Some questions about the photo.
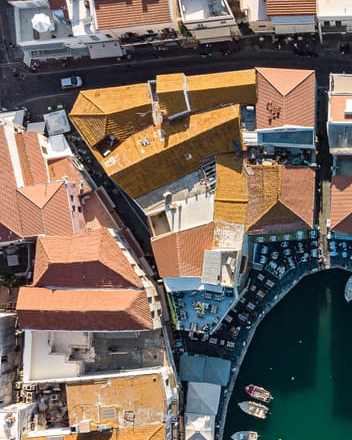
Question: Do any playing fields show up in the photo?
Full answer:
No, I can't see a single playing field in this photo.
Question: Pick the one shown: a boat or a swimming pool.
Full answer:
This aerial view contains a boat.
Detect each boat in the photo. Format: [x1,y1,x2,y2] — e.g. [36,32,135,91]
[344,277,352,302]
[222,431,260,440]
[235,402,269,419]
[242,387,272,404]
